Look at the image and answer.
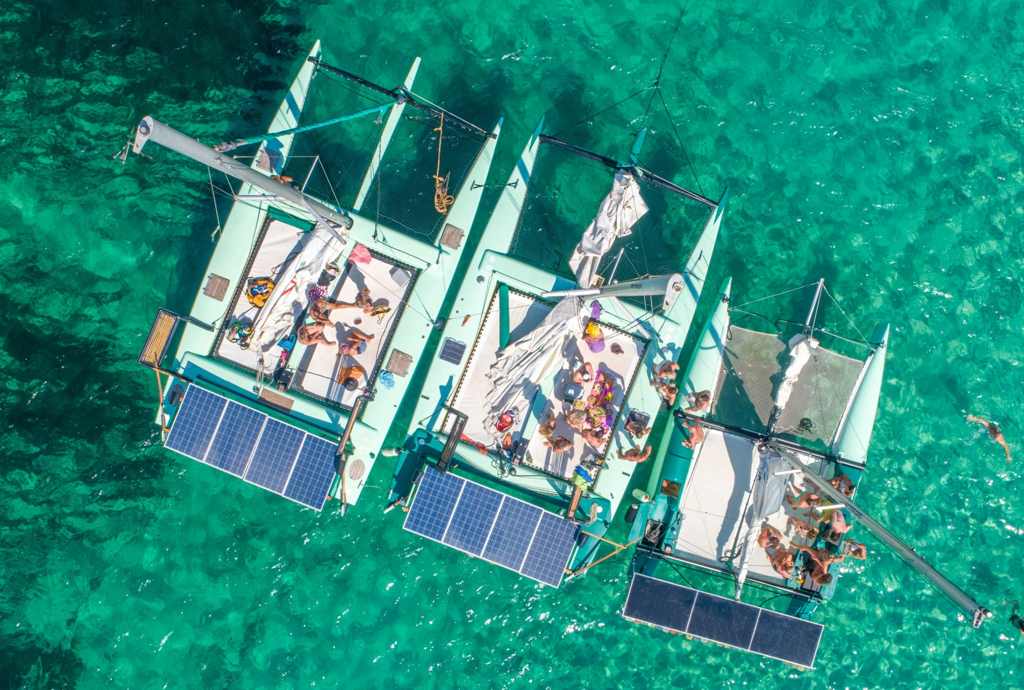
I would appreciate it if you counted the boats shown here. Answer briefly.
3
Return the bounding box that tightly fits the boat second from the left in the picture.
[384,121,723,588]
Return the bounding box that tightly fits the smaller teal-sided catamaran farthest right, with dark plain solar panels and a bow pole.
[623,277,995,669]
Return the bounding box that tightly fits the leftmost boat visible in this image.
[112,39,503,516]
